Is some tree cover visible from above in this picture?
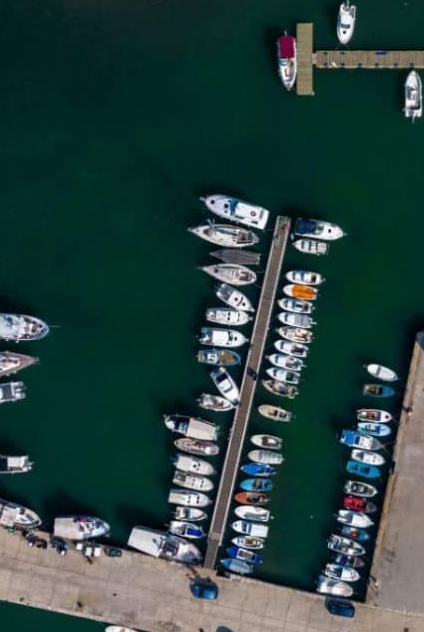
No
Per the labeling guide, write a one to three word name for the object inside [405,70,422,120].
boat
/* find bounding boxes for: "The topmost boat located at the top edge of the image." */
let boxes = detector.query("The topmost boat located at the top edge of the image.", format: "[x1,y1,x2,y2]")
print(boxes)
[338,0,357,44]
